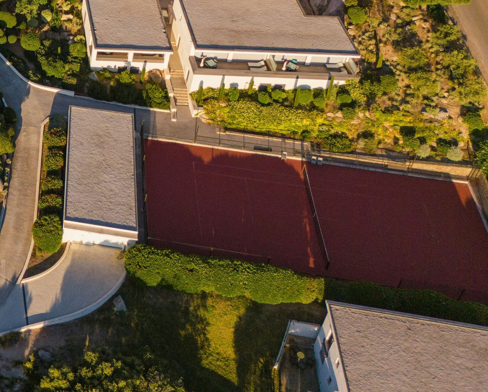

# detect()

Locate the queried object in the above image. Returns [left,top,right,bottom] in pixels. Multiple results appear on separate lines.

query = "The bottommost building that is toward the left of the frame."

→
[61,105,139,257]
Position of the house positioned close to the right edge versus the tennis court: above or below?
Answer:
below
